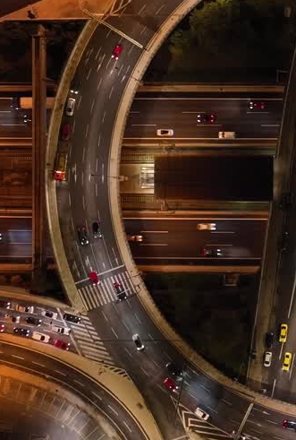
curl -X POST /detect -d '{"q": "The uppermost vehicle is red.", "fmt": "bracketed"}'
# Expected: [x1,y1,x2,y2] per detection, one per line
[111,40,125,59]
